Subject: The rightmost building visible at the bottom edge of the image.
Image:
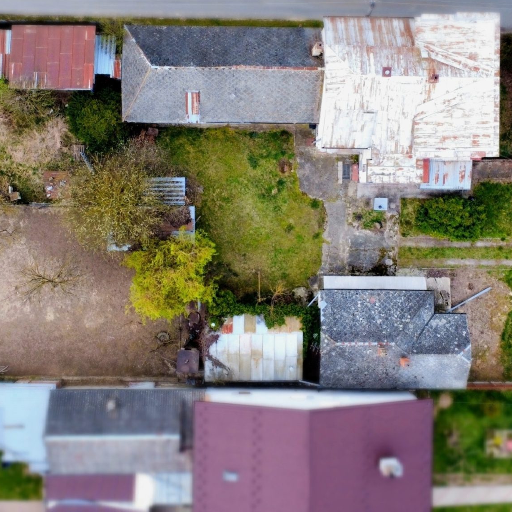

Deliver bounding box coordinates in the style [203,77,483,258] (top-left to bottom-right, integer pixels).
[195,388,432,512]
